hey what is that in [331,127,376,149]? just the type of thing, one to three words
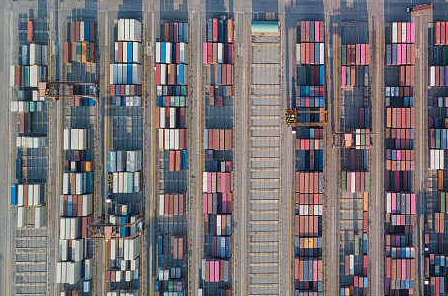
crane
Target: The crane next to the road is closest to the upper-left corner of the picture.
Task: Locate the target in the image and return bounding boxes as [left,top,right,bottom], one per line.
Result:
[34,79,99,100]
